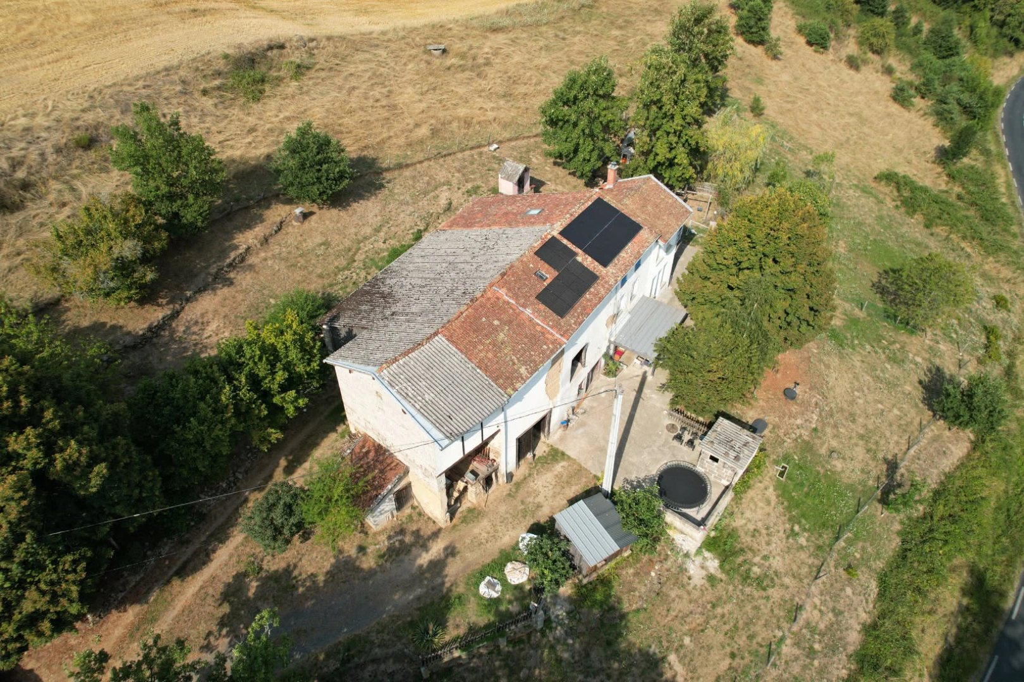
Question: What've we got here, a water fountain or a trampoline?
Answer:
trampoline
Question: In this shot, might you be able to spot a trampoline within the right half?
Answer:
Yes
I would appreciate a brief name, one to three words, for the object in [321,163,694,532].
house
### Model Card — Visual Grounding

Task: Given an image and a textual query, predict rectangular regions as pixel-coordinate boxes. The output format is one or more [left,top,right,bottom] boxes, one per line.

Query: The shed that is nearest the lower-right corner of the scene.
[697,417,762,497]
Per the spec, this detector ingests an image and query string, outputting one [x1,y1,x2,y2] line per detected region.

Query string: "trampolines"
[655,463,712,516]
